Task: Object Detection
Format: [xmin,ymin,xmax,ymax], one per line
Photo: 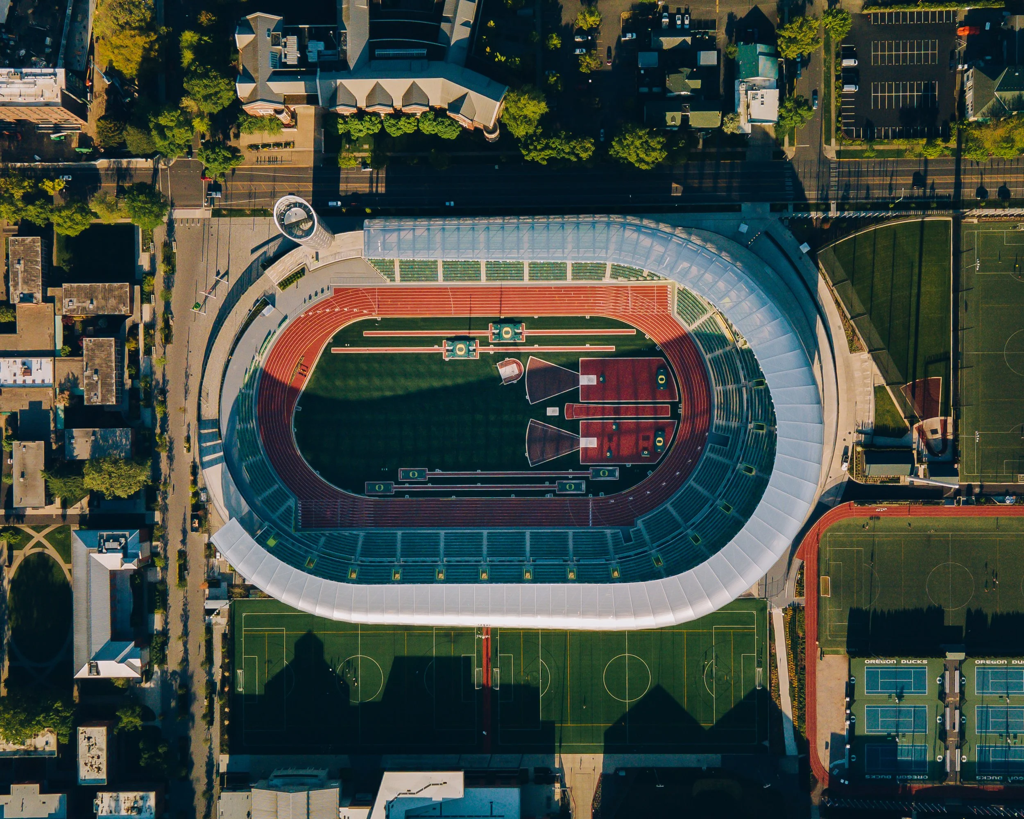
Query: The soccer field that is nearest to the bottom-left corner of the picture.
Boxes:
[234,599,482,755]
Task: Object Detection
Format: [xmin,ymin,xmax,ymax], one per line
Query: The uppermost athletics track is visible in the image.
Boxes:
[257,287,710,528]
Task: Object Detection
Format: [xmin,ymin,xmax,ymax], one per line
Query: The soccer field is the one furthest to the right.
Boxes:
[960,223,1024,482]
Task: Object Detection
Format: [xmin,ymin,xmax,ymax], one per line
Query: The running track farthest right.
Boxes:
[796,502,1024,785]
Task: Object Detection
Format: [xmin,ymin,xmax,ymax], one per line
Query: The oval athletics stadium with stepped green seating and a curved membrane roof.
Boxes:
[209,214,824,630]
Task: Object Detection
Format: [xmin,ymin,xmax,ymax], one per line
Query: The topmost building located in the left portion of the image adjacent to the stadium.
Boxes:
[233,0,510,147]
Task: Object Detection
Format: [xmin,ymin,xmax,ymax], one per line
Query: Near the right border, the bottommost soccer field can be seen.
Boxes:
[818,517,1024,657]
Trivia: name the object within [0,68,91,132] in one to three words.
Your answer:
building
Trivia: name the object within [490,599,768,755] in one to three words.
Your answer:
soccer field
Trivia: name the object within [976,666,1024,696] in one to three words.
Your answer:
tennis court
